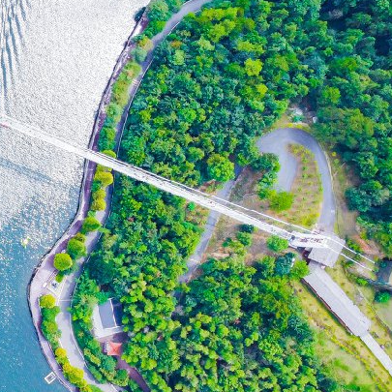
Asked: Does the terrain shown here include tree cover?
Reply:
Yes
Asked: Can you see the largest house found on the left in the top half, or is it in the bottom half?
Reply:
bottom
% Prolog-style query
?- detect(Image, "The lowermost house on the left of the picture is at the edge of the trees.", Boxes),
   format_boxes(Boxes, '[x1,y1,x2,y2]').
[97,298,127,329]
